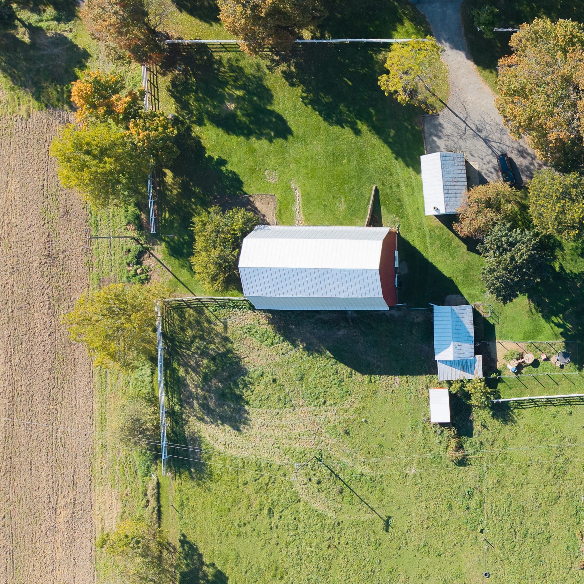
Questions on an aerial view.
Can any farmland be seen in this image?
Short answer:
Yes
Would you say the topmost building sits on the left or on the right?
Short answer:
right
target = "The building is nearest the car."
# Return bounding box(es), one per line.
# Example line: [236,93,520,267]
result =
[420,152,468,215]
